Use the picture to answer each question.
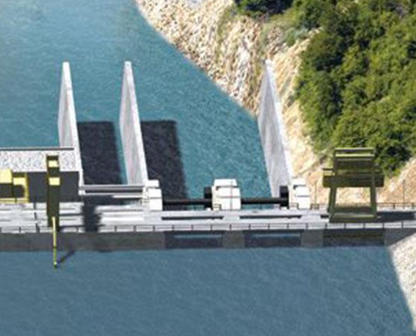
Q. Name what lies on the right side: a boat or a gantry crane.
gantry crane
